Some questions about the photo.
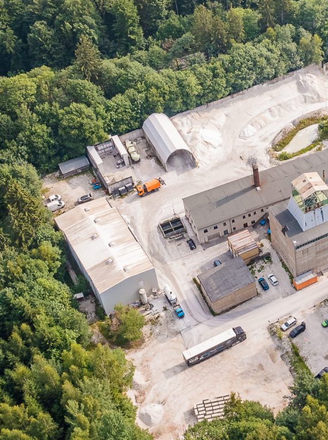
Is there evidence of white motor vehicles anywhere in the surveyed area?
Yes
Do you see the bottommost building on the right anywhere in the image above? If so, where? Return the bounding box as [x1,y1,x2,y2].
[195,257,257,315]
